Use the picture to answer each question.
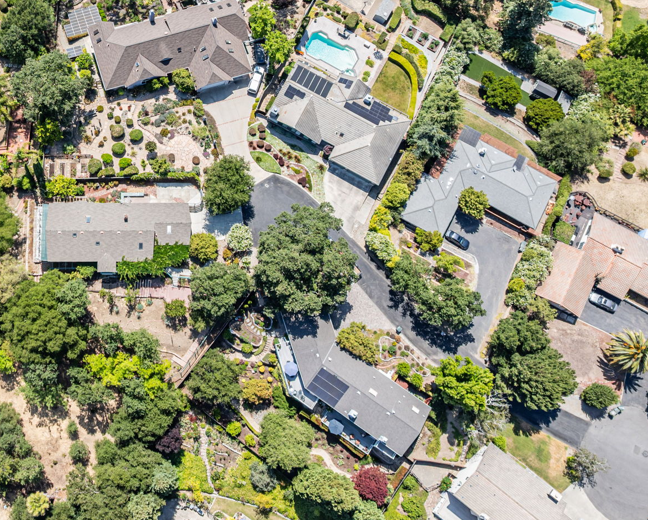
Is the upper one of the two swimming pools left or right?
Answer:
right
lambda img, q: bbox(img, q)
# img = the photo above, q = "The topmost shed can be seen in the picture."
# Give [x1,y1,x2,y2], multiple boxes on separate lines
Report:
[372,0,395,23]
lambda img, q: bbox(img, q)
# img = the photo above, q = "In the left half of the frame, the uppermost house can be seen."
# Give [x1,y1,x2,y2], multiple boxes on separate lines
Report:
[88,0,252,93]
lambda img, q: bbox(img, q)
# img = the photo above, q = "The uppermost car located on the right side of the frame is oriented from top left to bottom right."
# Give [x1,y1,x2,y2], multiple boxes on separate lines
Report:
[446,229,472,250]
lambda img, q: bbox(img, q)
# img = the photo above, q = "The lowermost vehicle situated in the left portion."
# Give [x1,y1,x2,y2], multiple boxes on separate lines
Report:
[247,65,265,93]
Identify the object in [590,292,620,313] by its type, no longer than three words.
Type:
car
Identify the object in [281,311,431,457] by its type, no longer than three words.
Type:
house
